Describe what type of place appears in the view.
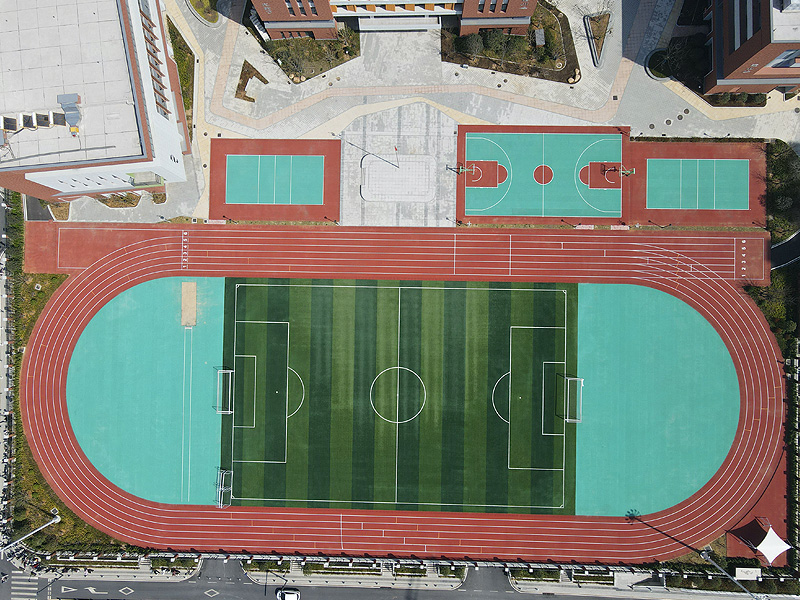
sports ground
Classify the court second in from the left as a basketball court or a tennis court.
basketball court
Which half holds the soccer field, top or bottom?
bottom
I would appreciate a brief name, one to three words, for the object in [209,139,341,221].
sports court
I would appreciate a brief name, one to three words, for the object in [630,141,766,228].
sports court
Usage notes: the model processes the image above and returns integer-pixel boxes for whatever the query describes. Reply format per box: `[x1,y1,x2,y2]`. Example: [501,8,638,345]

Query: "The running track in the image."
[20,222,788,566]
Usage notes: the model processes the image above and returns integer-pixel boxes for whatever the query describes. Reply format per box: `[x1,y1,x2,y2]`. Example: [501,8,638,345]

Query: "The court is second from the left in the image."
[456,126,630,226]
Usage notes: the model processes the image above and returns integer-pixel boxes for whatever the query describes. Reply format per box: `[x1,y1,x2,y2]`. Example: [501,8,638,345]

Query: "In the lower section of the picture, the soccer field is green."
[220,278,577,515]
